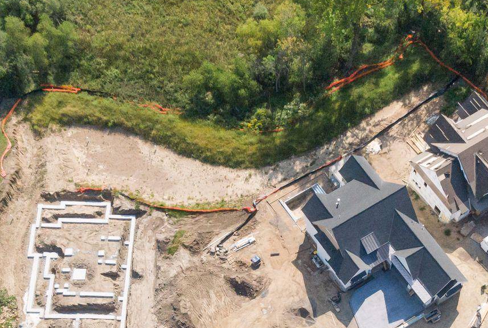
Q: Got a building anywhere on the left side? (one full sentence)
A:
No, there is no building on the left side.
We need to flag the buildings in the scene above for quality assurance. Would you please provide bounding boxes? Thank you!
[283,155,468,304]
[407,90,488,225]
